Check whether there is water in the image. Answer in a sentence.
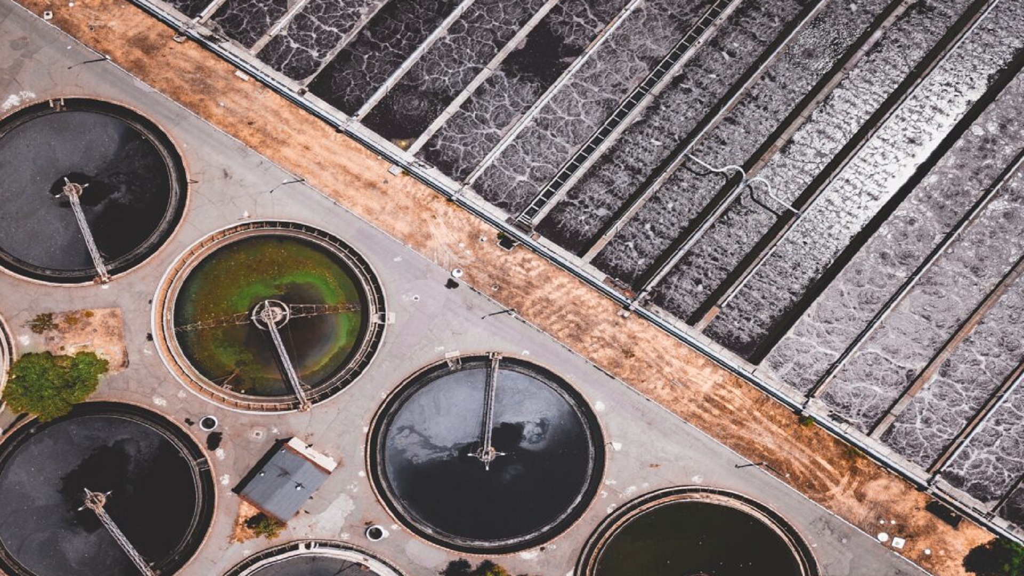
Yes, water can be seen from above here.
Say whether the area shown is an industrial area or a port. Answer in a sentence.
The picture captures an industrial area.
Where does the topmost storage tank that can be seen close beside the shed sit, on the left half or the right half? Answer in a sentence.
You can find the topmost storage tank that can be seen close beside the shed on the left side of the picture.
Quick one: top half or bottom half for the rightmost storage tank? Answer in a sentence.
The bottom half of the photo is where the rightmost storage tank is.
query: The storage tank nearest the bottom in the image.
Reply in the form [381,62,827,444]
[224,540,405,576]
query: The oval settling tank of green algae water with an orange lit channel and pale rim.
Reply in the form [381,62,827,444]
[151,218,386,415]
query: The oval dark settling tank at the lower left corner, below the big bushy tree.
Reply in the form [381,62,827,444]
[0,401,215,576]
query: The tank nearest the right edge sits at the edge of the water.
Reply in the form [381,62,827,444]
[576,485,819,576]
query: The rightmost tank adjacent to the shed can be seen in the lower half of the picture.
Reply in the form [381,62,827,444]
[368,354,606,555]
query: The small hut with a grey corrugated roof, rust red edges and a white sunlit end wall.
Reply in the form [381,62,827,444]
[238,433,338,524]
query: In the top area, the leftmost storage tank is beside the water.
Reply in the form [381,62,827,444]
[0,93,189,288]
